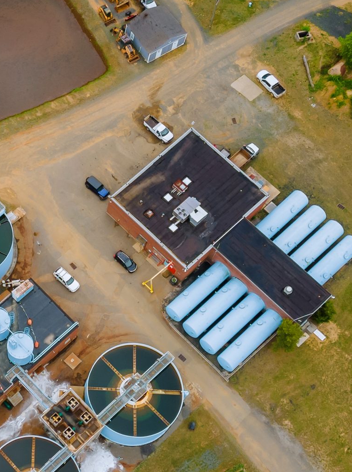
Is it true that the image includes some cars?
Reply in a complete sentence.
Yes, a car appears in the view.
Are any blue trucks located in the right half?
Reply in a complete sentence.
No, no blue truck can be made out in the right half.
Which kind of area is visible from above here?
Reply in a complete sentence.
This looks like an industrial area.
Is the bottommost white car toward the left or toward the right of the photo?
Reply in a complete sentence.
The bottommost white car sits on the left side.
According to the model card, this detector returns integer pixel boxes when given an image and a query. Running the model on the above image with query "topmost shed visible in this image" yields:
[124,5,190,64]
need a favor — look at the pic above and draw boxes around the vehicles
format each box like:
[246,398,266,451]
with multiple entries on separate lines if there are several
[108,0,131,15]
[256,71,286,99]
[109,28,139,66]
[51,266,82,296]
[144,115,174,144]
[83,174,111,201]
[112,249,139,276]
[140,0,161,9]
[229,143,261,169]
[98,3,116,28]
